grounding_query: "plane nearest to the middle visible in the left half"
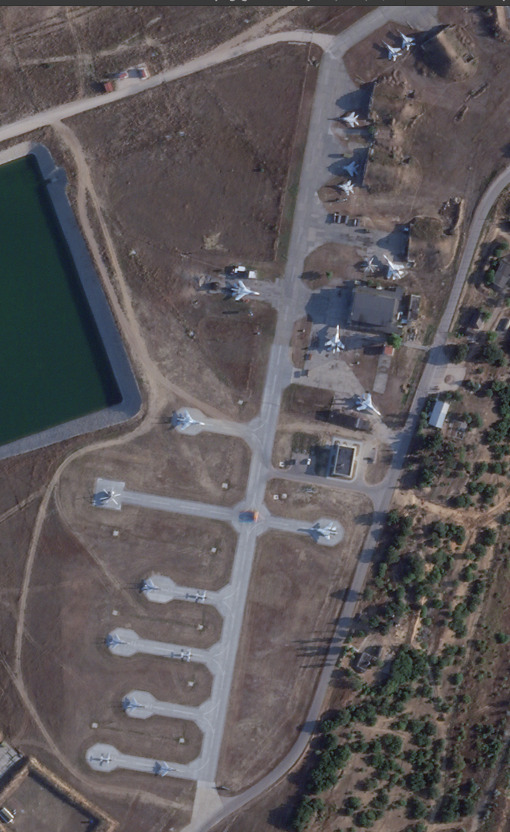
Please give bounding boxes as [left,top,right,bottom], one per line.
[175,411,205,431]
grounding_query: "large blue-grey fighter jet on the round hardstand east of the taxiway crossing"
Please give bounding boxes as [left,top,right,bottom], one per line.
[308,522,340,542]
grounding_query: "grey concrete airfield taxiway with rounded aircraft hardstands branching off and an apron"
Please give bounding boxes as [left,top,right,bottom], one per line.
[89,0,438,780]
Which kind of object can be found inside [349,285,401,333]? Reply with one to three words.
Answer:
hangar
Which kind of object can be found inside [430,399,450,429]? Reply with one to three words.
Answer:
shed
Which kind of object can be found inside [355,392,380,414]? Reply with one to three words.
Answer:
airplane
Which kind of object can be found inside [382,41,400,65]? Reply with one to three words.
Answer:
airplane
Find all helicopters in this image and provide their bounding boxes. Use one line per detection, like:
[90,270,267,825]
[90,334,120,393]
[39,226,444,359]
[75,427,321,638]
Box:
[363,257,379,274]
[102,484,120,505]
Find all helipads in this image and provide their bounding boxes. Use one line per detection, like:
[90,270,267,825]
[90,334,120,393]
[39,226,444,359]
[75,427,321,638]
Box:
[93,478,125,510]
